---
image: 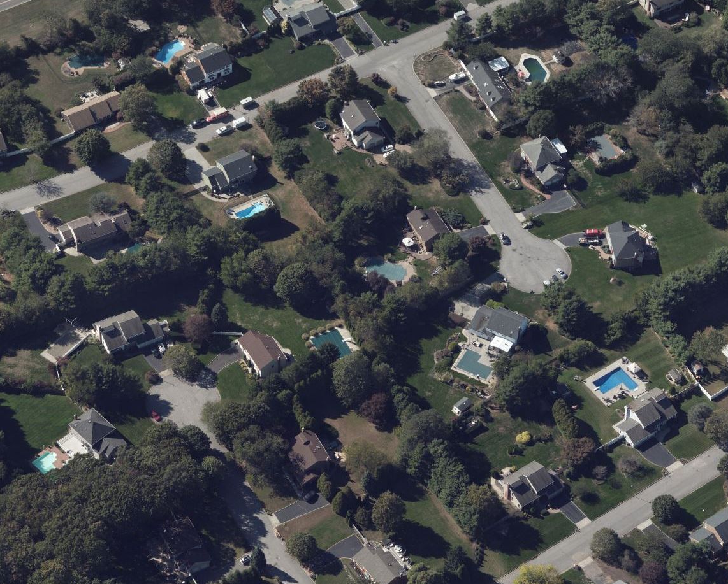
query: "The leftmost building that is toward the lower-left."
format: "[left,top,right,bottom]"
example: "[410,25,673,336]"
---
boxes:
[69,410,122,465]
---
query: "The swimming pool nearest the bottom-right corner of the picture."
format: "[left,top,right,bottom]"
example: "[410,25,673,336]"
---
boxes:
[593,367,640,394]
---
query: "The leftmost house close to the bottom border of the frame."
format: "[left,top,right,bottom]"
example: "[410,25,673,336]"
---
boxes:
[155,522,210,579]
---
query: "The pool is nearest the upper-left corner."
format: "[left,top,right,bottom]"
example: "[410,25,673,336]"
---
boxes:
[69,53,106,69]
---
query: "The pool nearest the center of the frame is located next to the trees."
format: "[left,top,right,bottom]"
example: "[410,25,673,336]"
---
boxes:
[367,259,408,281]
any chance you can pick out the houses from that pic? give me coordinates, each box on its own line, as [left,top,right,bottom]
[56,211,128,251]
[61,88,127,136]
[285,4,331,43]
[519,135,562,190]
[155,522,210,579]
[237,327,287,379]
[207,153,256,195]
[69,410,122,465]
[503,466,565,515]
[288,428,330,490]
[179,44,232,88]
[356,541,406,584]
[467,306,534,351]
[92,314,165,357]
[618,396,678,451]
[459,62,512,113]
[696,510,728,559]
[409,207,452,250]
[602,221,644,269]
[338,99,385,152]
